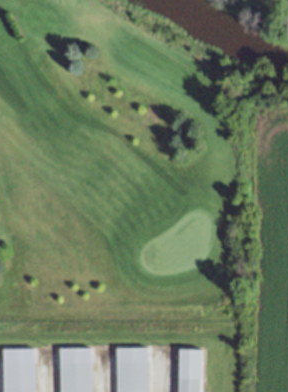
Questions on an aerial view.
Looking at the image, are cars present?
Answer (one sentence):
No, no car can be seen from above.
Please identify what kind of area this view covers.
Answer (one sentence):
What you see here is a golf course.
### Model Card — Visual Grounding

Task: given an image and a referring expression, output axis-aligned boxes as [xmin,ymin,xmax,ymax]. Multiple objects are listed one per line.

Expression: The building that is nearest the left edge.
[2,348,36,392]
